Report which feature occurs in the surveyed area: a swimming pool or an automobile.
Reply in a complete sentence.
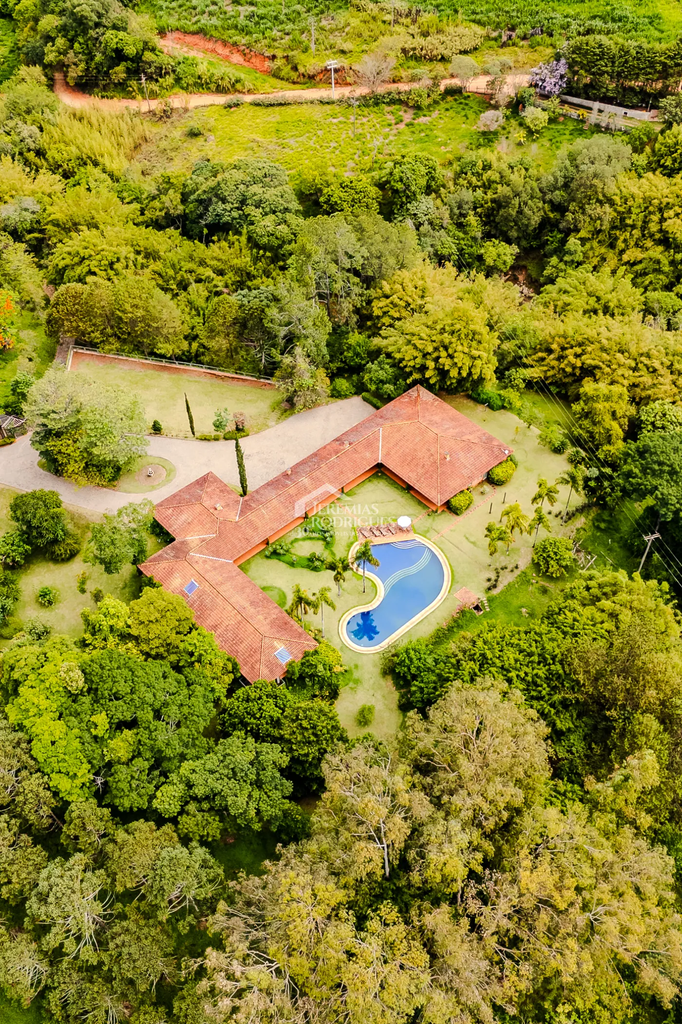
Visible in the photo is a swimming pool.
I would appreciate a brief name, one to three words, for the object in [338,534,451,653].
swimming pool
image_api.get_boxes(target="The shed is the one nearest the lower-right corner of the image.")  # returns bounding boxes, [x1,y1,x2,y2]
[454,586,485,616]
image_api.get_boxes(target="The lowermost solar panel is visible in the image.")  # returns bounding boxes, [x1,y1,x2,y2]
[271,643,293,666]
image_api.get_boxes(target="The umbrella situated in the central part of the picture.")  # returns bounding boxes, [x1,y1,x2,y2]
[397,514,416,534]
